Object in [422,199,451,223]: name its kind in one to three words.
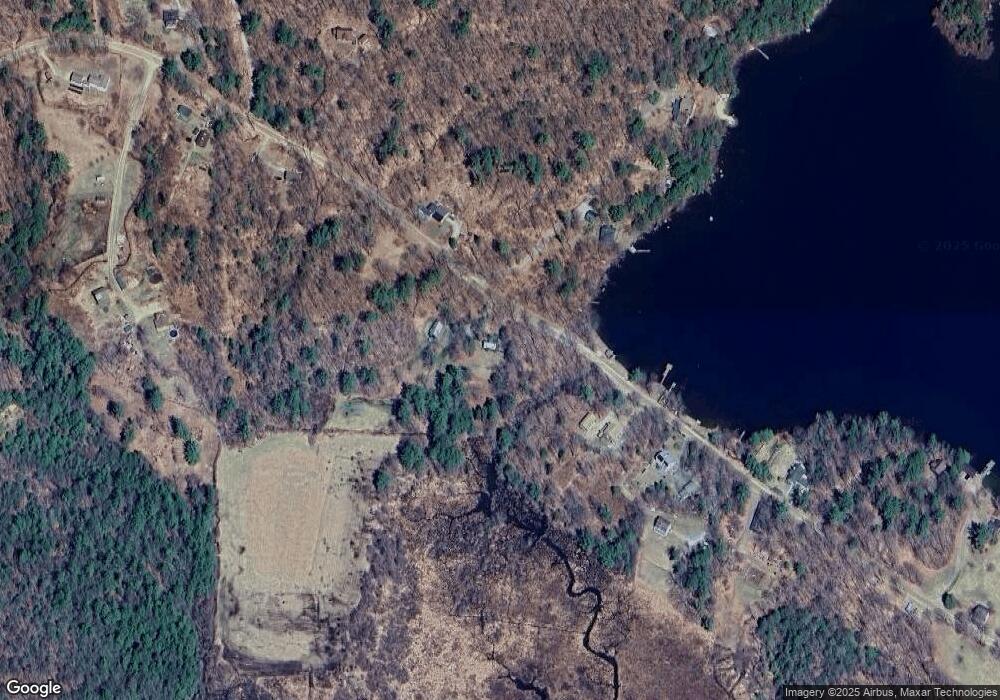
house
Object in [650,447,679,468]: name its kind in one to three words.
house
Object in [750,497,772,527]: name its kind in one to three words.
building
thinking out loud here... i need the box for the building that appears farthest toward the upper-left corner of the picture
[72,70,108,90]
